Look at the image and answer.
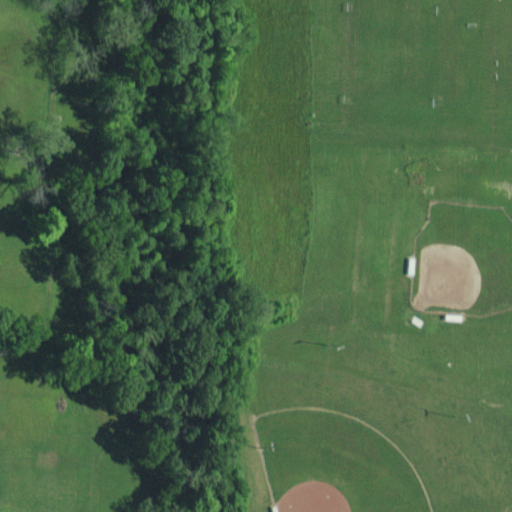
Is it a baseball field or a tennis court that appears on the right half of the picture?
baseball field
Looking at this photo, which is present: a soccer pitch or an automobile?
soccer pitch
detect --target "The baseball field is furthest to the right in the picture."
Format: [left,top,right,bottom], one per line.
[410,201,512,318]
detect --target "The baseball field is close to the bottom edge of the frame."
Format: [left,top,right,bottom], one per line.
[252,406,434,512]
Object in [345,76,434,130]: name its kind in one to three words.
soccer field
